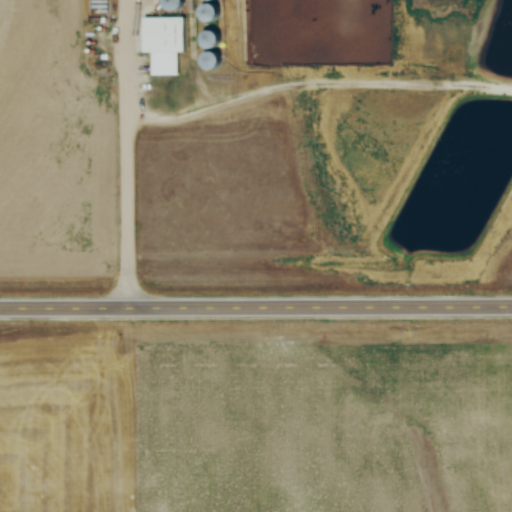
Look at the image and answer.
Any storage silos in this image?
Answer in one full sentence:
Yes, the image includes a storage silo.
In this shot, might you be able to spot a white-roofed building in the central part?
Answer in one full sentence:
No, I can find no white-roofed building in the central part.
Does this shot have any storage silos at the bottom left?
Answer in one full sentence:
No, no storage silo is visible at the bottom left.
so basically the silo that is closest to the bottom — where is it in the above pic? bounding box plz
[198,50,219,72]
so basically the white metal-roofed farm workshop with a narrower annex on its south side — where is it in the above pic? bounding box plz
[141,16,185,76]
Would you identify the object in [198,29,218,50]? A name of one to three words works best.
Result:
silo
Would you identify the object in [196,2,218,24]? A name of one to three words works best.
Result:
silo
